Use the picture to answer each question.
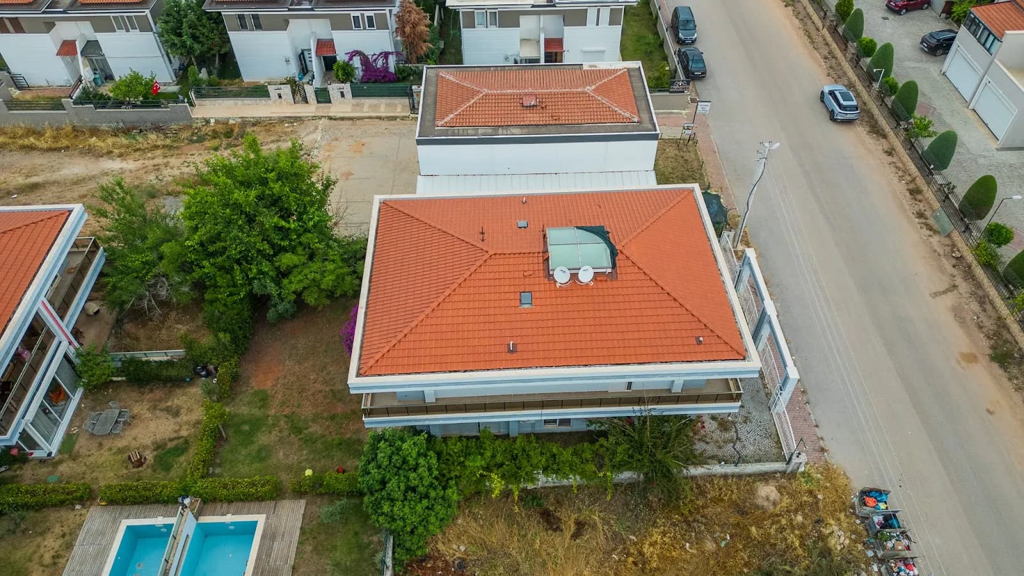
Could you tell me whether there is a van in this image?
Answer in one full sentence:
Yes, there's a van down there.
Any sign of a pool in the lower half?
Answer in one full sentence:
Yes, looking in the lower half, one can make out a pool.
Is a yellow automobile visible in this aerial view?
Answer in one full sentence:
No, the scene contains no yellow automobile.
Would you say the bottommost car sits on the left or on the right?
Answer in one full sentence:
The bottommost car sits on the right side.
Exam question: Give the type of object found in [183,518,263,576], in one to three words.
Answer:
swimming pool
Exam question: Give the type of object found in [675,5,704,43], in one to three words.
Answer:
van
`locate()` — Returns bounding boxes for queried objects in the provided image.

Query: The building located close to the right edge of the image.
[942,0,1024,149]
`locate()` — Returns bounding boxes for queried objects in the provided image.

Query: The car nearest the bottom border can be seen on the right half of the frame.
[814,81,861,121]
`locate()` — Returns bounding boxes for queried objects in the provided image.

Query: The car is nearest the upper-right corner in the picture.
[916,23,962,51]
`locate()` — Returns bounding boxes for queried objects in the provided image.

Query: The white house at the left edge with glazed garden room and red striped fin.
[0,204,106,456]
